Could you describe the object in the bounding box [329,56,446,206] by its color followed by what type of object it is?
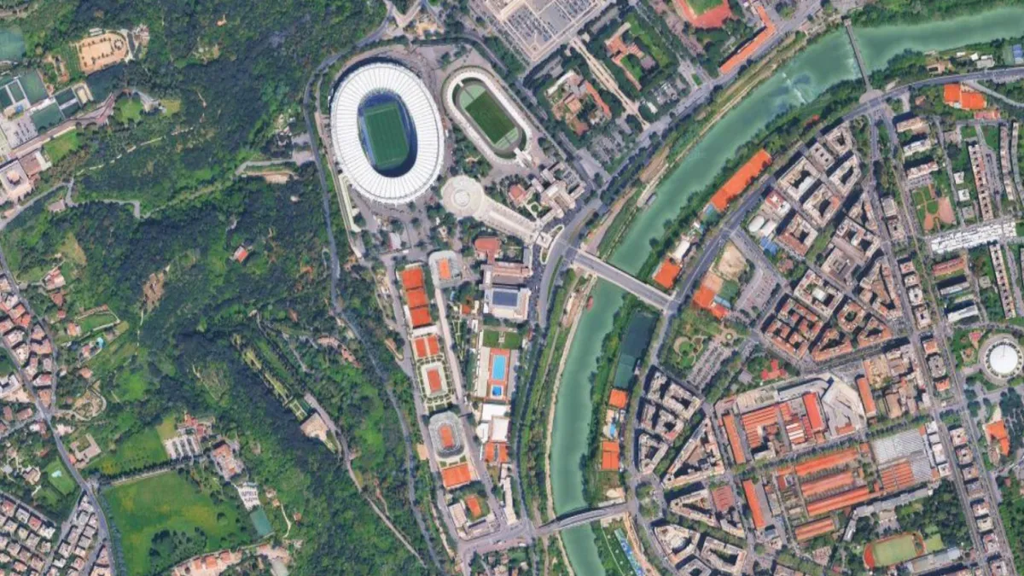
white stadium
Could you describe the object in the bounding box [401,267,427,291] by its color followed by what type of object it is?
red tennis court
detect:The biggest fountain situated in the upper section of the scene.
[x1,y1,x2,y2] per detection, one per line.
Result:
[442,175,483,217]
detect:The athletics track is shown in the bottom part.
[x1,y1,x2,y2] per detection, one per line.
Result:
[864,532,925,568]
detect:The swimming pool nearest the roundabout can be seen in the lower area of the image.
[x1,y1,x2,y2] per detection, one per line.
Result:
[603,410,619,439]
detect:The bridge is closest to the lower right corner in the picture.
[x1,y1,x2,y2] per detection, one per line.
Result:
[534,503,630,535]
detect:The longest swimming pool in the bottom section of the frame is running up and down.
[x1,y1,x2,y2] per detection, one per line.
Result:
[485,348,510,401]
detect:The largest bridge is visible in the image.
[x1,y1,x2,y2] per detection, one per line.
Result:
[570,245,674,313]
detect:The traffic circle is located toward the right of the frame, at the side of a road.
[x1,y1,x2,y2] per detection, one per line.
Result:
[630,469,674,530]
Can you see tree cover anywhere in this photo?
Yes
